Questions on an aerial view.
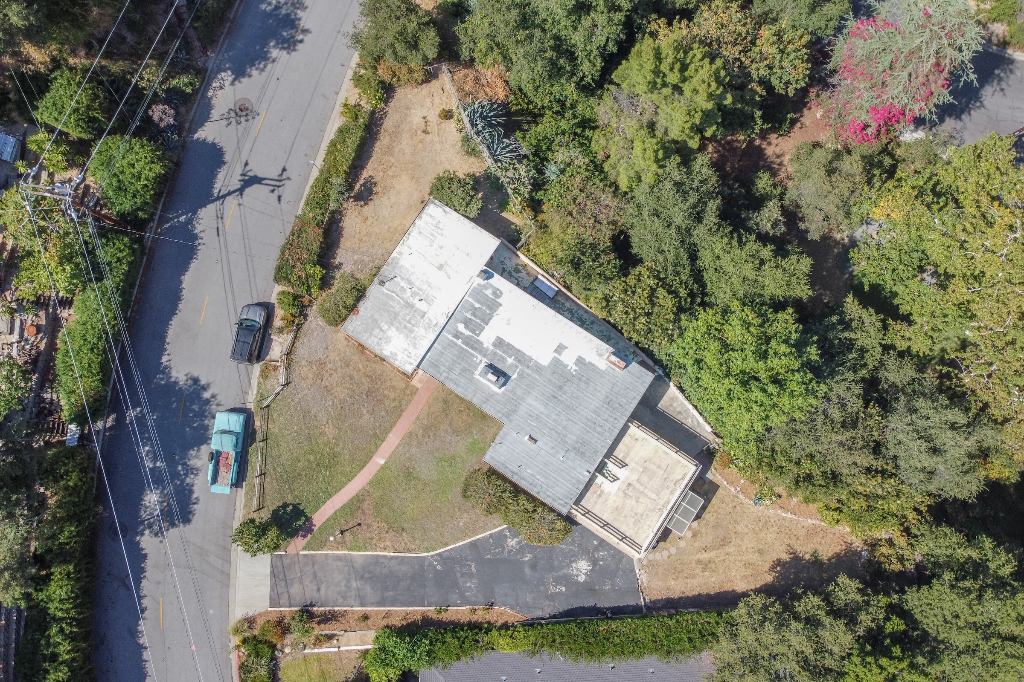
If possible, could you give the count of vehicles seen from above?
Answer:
2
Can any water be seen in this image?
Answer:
No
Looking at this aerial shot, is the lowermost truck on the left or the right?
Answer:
left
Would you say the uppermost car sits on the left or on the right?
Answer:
left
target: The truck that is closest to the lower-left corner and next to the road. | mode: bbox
[208,408,250,493]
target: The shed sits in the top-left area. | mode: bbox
[0,128,30,163]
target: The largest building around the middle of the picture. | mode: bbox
[341,197,704,565]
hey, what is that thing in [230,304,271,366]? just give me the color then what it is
gray car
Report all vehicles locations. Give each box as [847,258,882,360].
[230,304,271,366]
[208,408,250,493]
